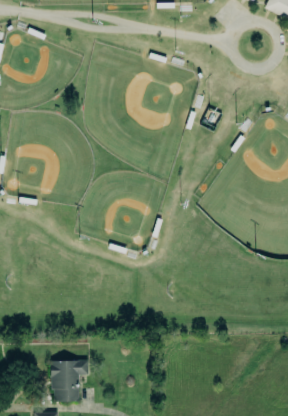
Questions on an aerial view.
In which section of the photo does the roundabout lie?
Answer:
top right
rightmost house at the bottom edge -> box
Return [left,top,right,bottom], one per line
[51,361,90,404]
